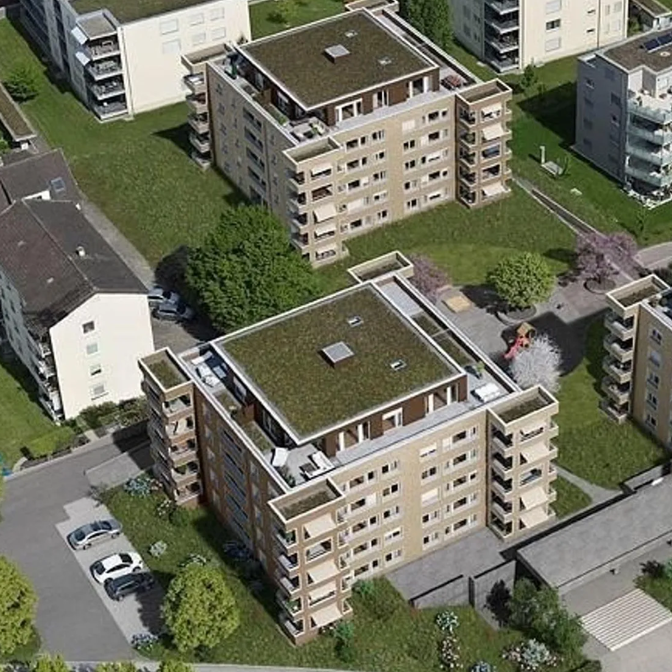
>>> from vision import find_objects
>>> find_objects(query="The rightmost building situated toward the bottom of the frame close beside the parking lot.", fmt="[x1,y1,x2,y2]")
[137,250,559,642]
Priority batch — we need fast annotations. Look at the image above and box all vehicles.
[142,278,182,299]
[150,297,194,321]
[89,549,143,576]
[102,567,157,598]
[67,517,120,545]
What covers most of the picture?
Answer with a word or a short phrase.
buildings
